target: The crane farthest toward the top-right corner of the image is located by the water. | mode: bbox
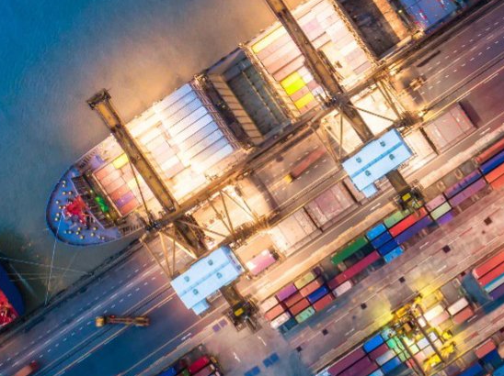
[256,0,429,216]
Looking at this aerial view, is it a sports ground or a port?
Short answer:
port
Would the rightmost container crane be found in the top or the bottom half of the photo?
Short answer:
bottom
